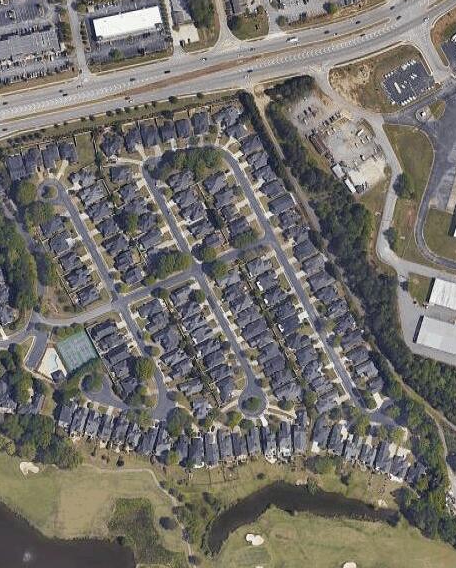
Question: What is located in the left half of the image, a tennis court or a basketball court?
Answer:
tennis court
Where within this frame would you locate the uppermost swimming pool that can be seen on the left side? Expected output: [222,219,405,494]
[38,347,66,376]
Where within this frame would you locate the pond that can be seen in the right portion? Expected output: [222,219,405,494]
[205,480,399,556]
